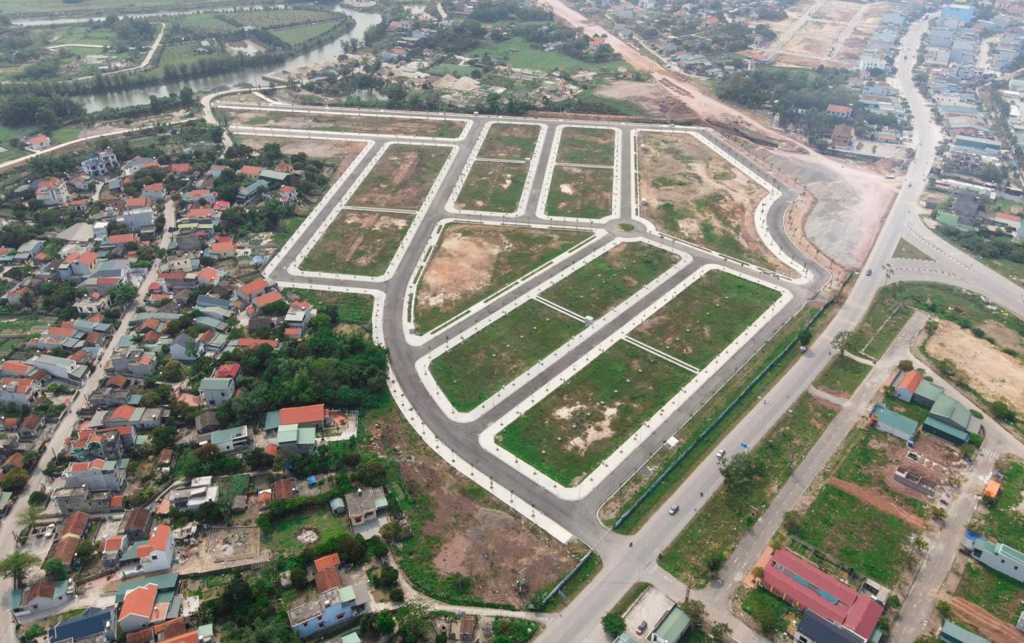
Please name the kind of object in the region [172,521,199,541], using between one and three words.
shed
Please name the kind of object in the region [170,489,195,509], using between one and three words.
shed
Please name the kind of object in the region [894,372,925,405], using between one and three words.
house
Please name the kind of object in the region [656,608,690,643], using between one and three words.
house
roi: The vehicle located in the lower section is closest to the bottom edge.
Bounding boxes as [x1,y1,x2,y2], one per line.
[632,617,650,636]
